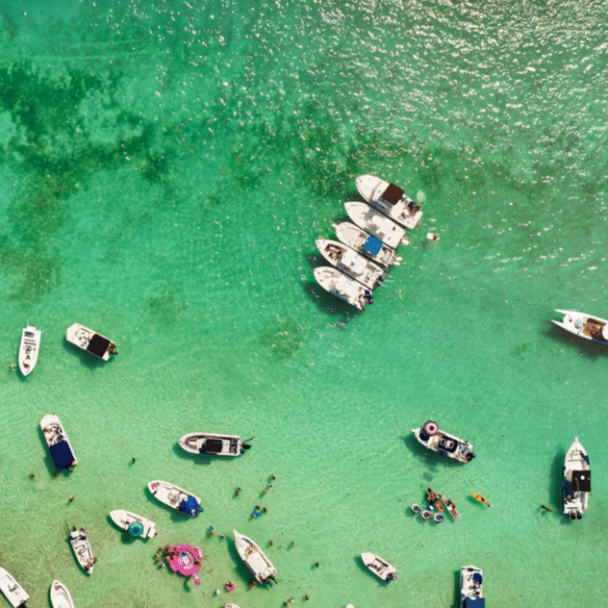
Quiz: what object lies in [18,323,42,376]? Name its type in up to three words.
boat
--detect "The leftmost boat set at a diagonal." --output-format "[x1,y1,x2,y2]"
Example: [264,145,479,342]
[0,569,29,608]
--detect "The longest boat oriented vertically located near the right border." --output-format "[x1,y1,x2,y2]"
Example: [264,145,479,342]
[559,434,591,520]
